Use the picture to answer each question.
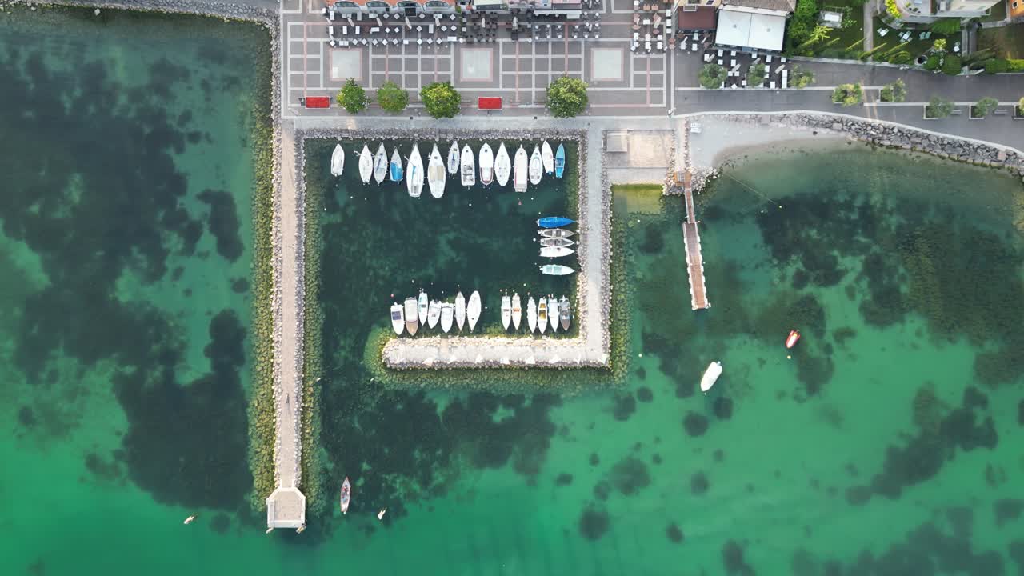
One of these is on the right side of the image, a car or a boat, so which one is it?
boat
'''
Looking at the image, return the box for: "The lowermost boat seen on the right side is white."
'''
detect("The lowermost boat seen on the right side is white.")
[702,361,721,391]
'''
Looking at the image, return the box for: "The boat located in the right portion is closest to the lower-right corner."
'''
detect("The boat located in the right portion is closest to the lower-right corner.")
[786,330,801,348]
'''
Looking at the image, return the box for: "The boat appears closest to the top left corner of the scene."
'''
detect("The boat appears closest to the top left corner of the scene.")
[331,140,345,178]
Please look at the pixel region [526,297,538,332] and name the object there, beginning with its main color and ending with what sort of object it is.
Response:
white boat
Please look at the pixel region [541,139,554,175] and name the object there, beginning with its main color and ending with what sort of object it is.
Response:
white boat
